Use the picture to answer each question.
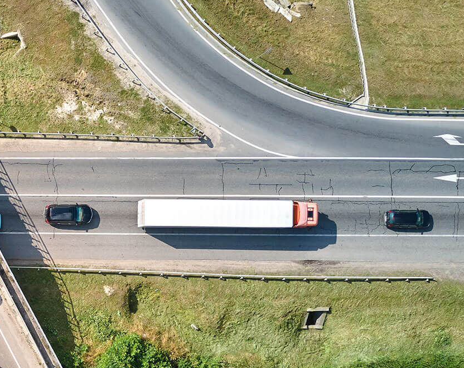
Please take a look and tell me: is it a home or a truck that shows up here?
truck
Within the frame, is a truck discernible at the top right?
No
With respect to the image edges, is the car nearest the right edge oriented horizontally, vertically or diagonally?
horizontally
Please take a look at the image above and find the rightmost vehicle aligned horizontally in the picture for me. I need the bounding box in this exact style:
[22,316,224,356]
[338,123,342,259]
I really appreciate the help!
[382,208,430,231]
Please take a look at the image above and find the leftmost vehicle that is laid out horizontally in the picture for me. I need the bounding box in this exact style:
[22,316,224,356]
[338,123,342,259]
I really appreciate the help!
[44,203,91,226]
